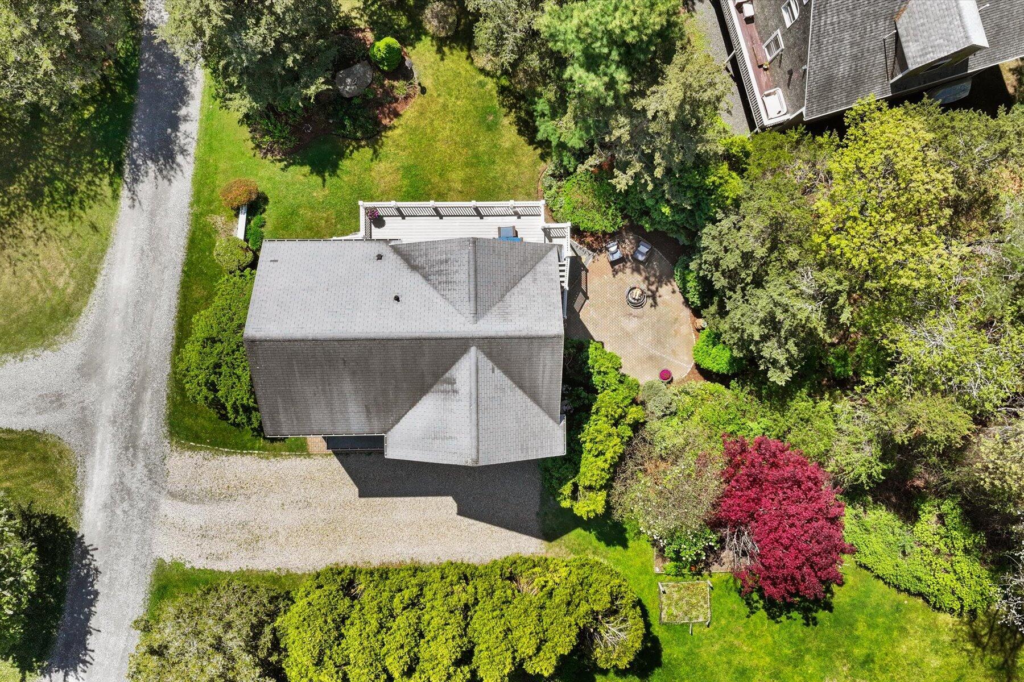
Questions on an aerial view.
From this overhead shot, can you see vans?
No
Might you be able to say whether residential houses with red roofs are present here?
No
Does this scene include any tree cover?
Yes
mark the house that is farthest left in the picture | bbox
[243,236,569,466]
